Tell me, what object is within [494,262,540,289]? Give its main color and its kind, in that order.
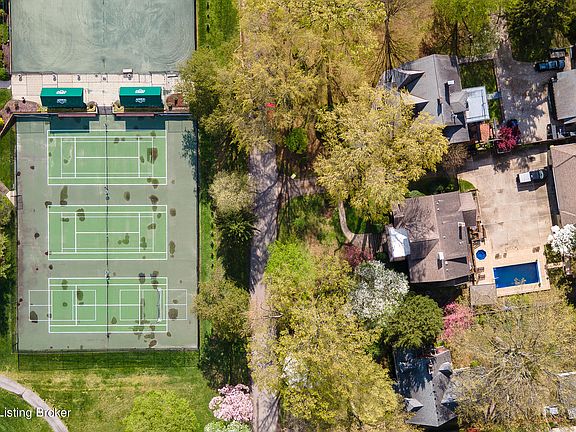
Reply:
blue swimming pool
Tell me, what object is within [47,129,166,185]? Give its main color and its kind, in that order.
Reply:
green tennis court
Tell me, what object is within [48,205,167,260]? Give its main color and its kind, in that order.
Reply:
green tennis court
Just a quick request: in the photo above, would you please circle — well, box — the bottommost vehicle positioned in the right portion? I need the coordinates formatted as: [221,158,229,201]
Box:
[516,169,546,183]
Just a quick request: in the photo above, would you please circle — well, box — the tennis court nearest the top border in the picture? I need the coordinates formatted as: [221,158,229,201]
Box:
[8,0,194,73]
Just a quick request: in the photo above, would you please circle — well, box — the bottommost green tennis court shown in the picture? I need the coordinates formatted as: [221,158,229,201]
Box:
[29,278,187,333]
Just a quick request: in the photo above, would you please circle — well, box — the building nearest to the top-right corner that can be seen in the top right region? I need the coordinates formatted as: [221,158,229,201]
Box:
[548,74,576,120]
